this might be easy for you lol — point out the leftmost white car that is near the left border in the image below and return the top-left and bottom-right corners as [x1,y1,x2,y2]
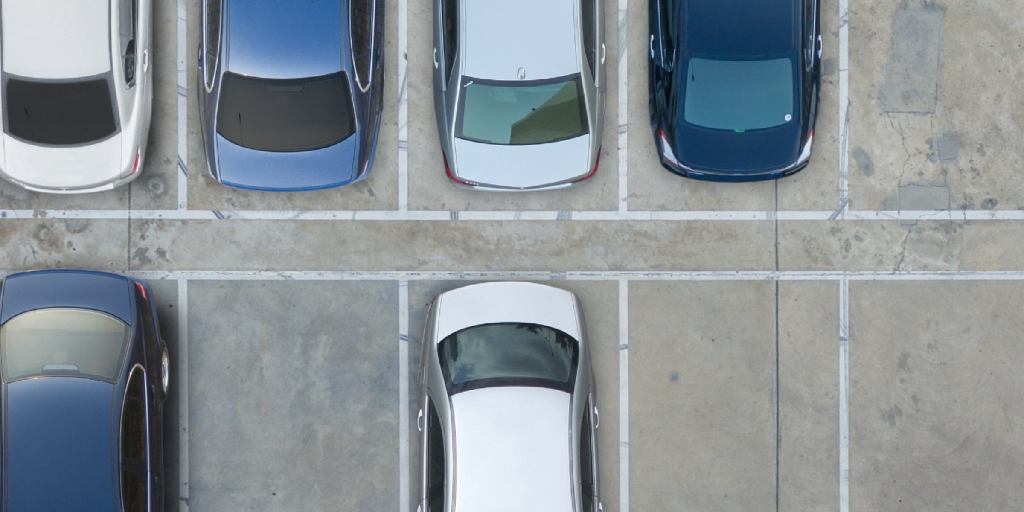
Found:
[0,0,155,194]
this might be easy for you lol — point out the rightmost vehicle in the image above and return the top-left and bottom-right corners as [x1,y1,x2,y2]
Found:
[648,0,822,182]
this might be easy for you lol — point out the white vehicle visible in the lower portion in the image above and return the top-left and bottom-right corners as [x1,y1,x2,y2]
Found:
[420,281,600,512]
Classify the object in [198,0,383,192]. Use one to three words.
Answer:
car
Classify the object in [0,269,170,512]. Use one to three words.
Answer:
car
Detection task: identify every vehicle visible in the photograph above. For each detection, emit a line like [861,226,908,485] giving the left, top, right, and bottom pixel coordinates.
[420,281,600,512]
[0,0,155,194]
[198,0,383,192]
[433,0,603,192]
[648,0,822,182]
[0,269,170,512]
